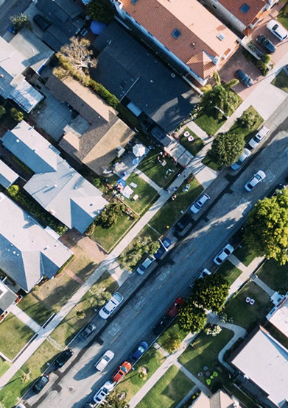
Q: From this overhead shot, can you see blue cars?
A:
Yes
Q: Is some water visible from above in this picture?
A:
No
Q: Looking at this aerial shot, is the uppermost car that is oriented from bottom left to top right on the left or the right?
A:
right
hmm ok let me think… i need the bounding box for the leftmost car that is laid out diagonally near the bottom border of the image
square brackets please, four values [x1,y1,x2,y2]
[32,373,52,395]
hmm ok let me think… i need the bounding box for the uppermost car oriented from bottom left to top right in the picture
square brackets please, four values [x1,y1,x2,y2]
[249,126,268,147]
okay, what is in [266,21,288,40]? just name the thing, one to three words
car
